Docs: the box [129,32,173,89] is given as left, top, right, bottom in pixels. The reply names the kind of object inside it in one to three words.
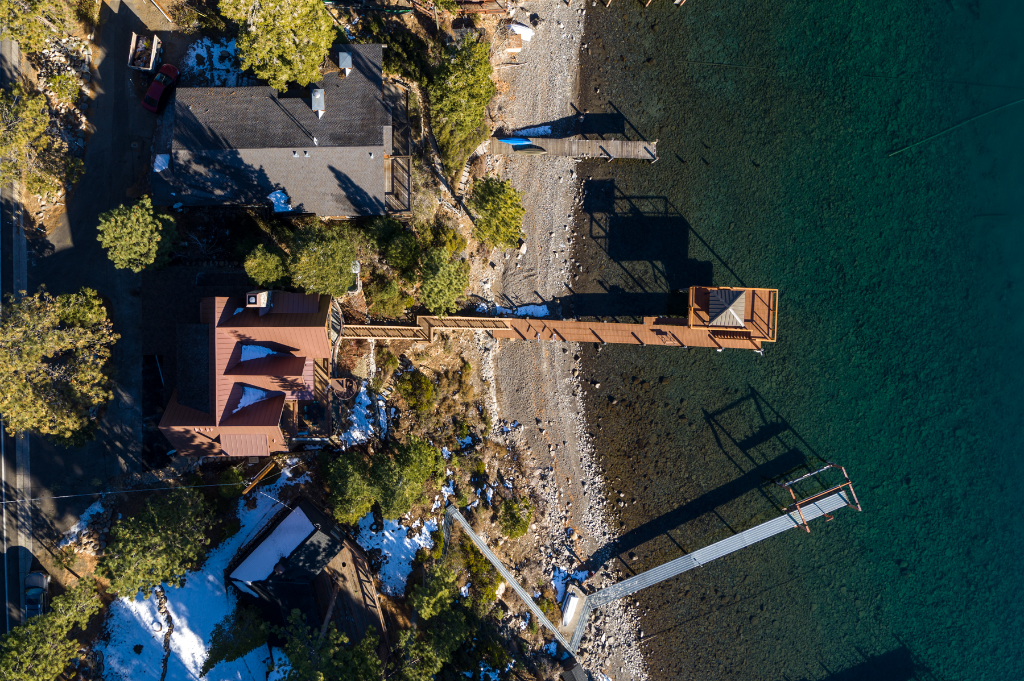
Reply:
trailer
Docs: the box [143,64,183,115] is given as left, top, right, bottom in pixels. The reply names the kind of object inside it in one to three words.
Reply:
car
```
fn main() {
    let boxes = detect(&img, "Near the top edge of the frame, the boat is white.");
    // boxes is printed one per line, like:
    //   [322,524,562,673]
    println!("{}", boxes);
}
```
[509,21,534,43]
